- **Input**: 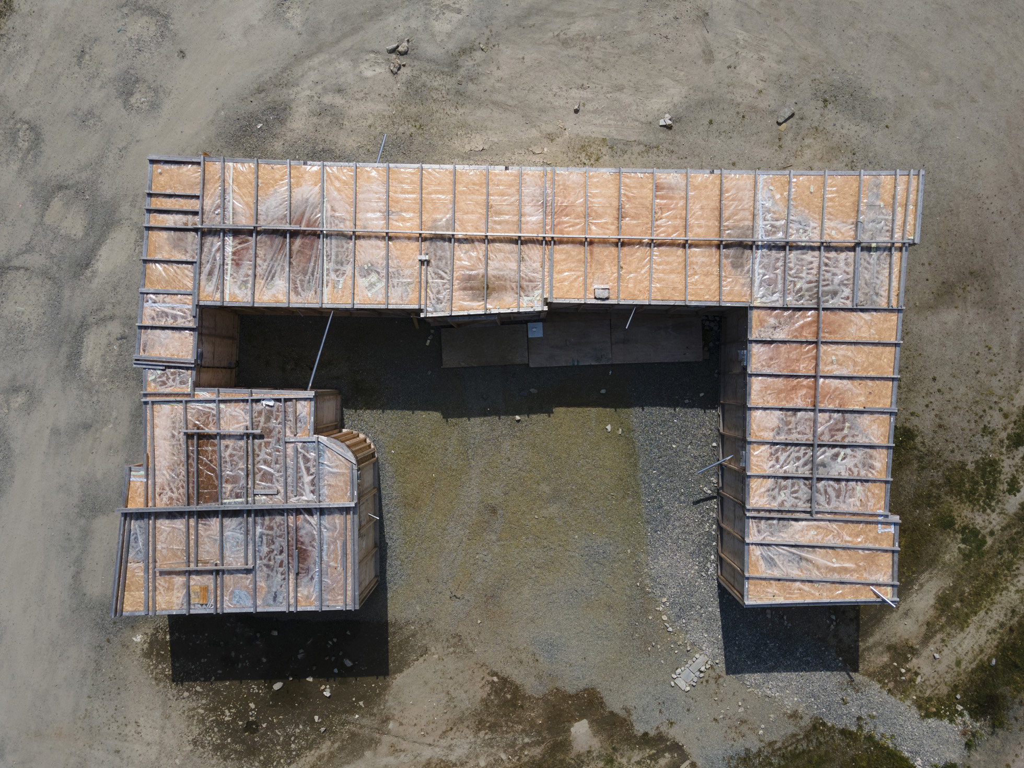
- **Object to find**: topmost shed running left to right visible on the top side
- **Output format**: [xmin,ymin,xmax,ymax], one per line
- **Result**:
[157,134,925,329]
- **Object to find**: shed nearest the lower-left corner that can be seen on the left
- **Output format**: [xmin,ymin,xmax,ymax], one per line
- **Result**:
[112,386,380,618]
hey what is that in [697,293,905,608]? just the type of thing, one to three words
shed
